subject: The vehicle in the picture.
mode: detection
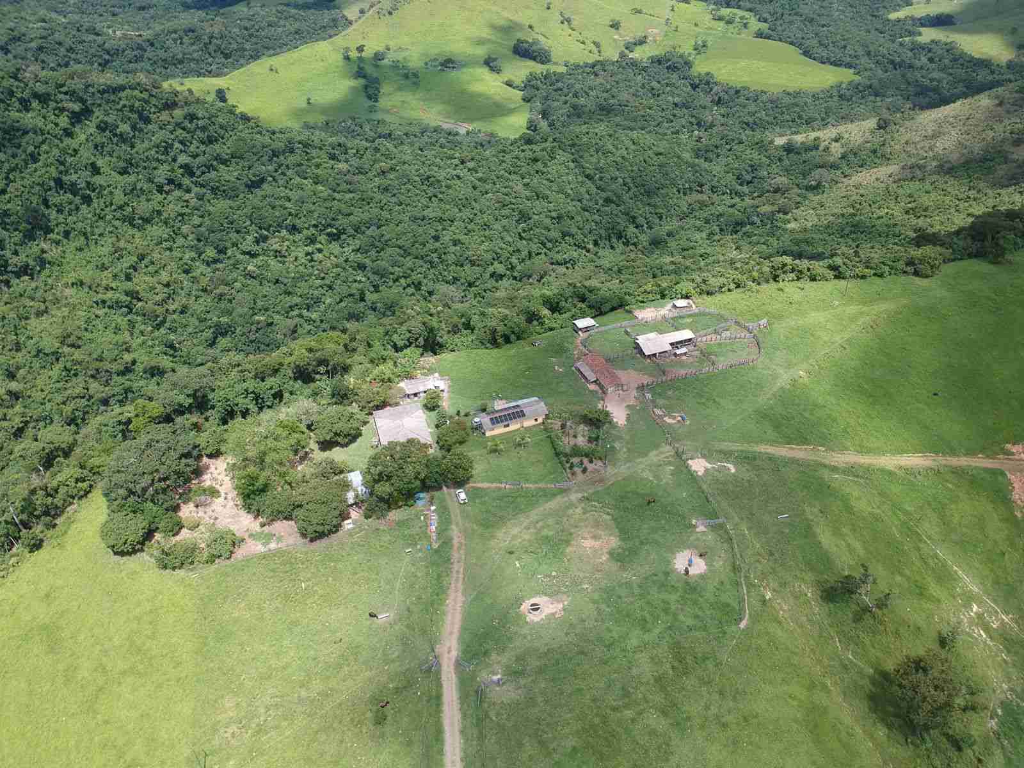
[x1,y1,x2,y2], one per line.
[456,490,468,505]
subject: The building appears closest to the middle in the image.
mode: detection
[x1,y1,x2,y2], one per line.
[475,399,548,439]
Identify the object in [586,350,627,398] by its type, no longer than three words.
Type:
barn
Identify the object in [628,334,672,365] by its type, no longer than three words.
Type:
barn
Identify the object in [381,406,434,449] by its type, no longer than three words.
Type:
house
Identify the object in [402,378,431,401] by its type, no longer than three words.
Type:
shed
